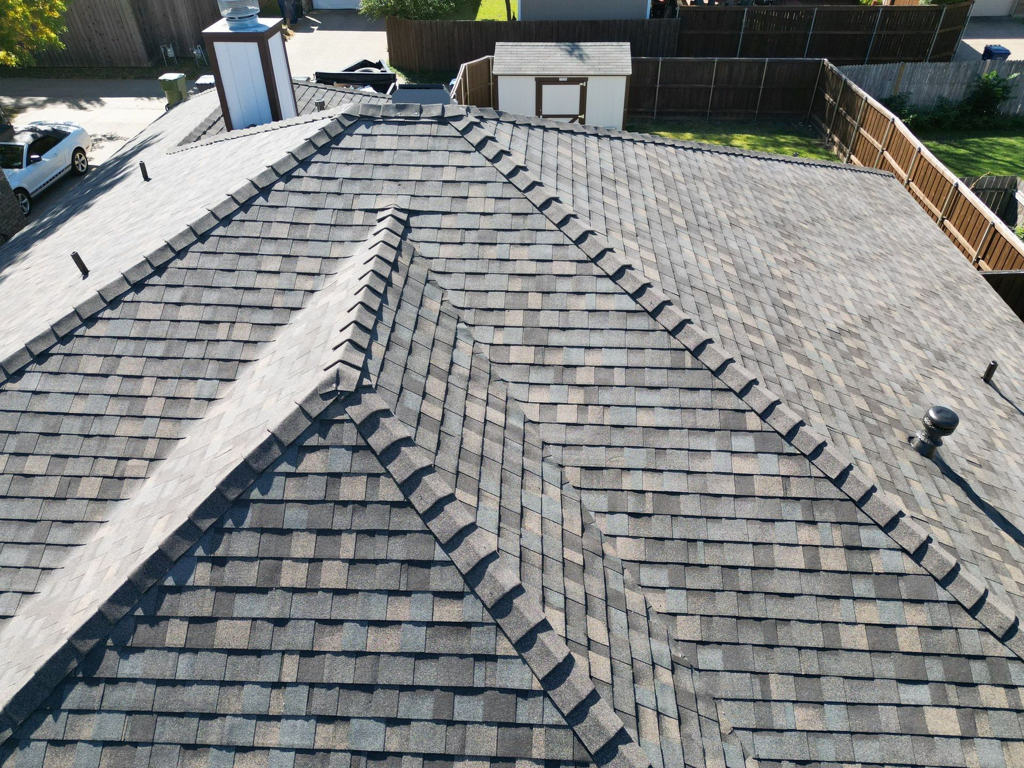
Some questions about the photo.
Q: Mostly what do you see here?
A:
buildings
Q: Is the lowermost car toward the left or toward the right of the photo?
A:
left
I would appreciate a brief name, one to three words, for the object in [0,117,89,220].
car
